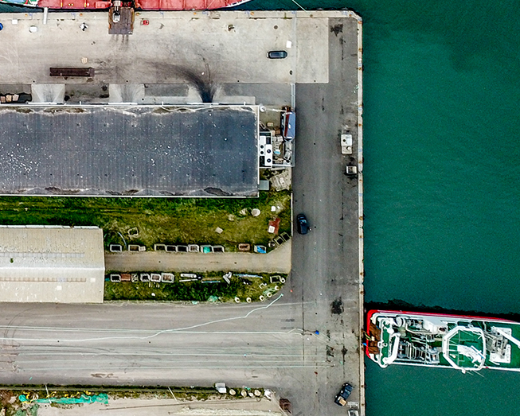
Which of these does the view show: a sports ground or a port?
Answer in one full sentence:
The picture captures a port.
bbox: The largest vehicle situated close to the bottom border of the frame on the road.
[335,382,351,404]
